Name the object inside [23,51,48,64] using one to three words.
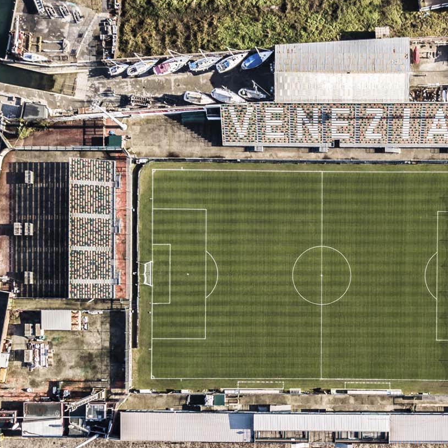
boat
